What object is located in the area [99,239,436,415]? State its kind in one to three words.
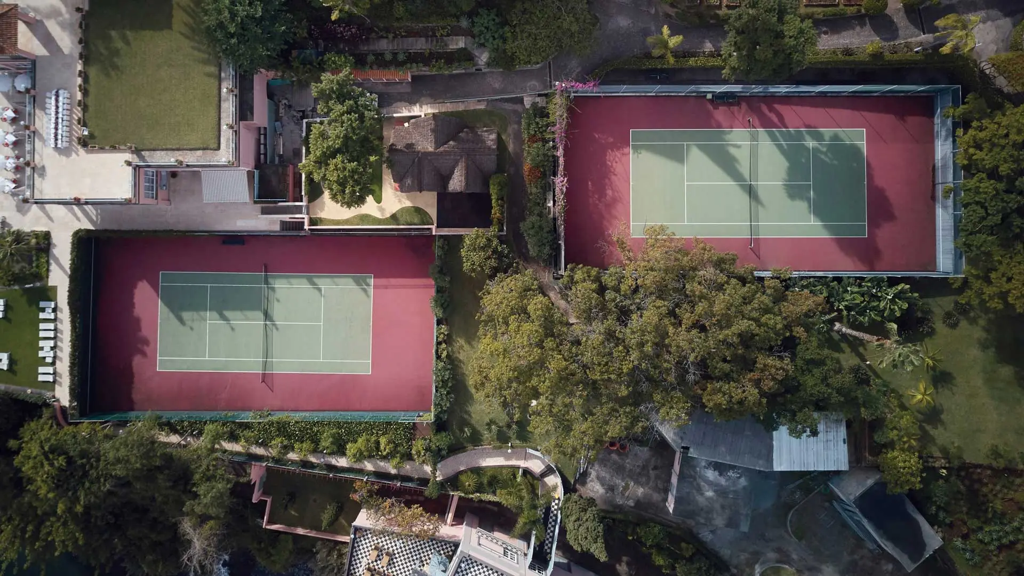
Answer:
tennis court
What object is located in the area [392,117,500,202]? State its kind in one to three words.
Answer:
building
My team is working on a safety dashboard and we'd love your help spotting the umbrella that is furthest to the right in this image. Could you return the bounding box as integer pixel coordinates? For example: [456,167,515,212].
[429,552,449,573]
